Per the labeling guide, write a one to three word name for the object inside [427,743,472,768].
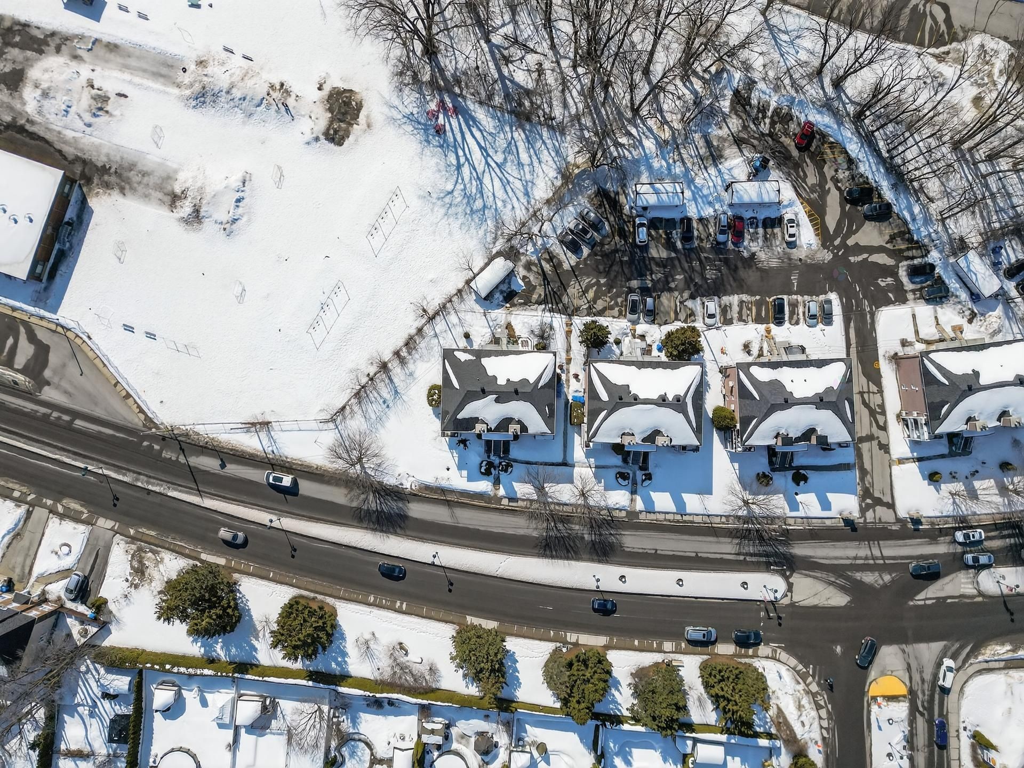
swimming pool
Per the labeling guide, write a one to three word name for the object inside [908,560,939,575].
car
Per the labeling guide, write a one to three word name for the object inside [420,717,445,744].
shed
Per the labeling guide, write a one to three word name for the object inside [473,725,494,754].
gazebo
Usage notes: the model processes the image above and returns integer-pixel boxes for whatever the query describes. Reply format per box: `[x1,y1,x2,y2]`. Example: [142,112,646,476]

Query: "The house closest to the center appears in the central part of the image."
[441,349,557,455]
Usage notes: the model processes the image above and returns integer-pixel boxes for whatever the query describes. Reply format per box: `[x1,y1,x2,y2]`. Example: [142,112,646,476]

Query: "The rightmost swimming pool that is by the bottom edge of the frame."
[609,737,666,768]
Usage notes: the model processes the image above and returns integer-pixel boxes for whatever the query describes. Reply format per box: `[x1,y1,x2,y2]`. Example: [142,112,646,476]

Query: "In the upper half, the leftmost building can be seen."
[0,148,83,285]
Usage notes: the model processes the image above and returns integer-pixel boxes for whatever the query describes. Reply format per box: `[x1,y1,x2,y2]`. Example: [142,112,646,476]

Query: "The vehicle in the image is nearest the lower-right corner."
[933,717,948,744]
